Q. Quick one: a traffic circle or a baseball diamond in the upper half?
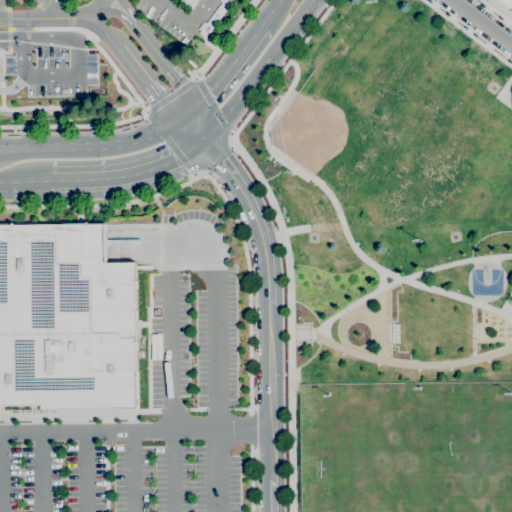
baseball diamond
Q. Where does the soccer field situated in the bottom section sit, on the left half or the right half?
right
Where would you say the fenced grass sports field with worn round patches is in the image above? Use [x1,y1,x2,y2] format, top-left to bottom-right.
[300,384,512,512]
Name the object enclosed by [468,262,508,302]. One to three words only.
basketball court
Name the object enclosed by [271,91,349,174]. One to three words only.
baseball field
